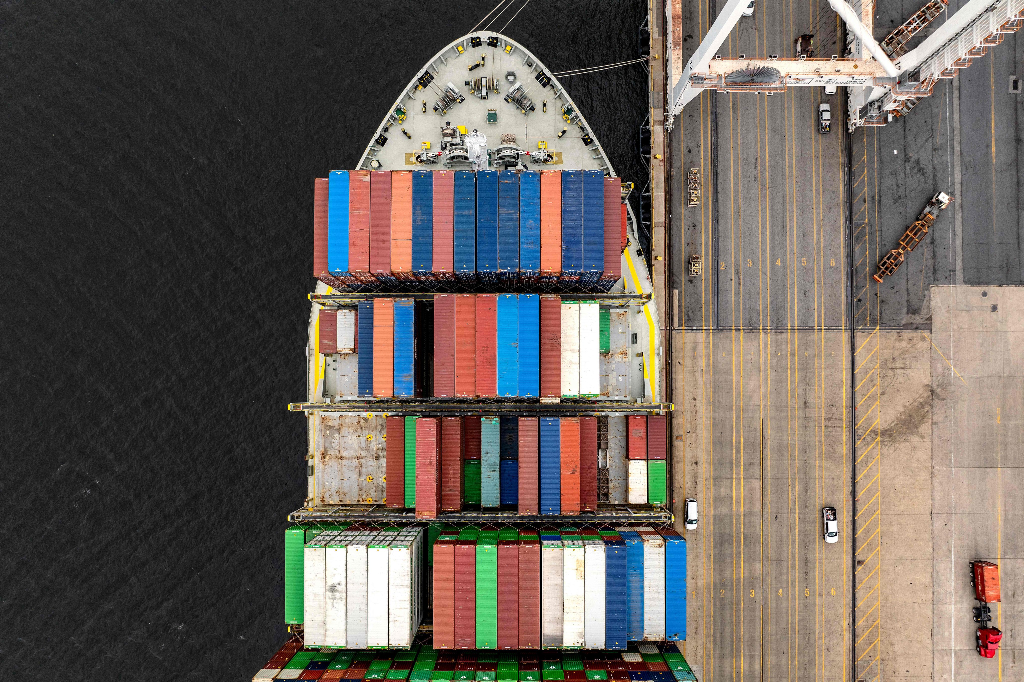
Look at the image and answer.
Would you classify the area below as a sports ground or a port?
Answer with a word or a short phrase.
port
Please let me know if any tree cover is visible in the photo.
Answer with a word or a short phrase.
No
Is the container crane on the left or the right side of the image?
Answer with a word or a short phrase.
right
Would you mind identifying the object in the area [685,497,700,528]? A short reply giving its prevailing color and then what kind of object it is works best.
white vehicle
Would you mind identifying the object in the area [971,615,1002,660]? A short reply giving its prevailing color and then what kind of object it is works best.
red truck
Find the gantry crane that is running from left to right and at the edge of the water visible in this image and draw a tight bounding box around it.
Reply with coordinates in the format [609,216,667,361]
[663,0,1024,142]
